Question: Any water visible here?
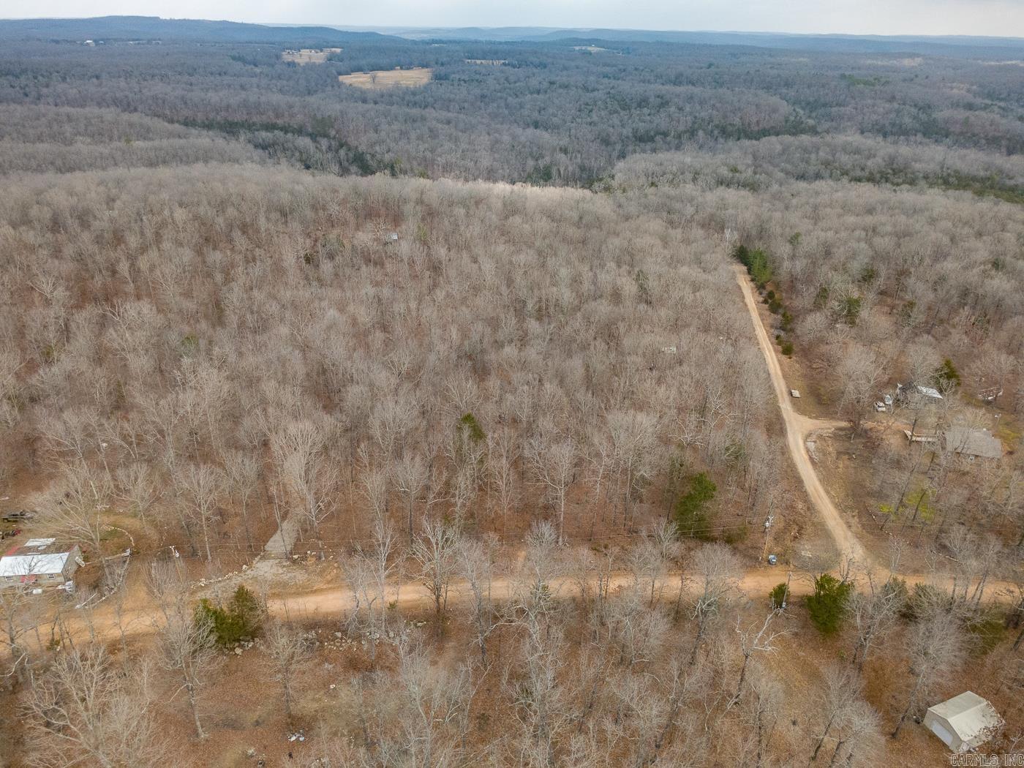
No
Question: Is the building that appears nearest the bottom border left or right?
right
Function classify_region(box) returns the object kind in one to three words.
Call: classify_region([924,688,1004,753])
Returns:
building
